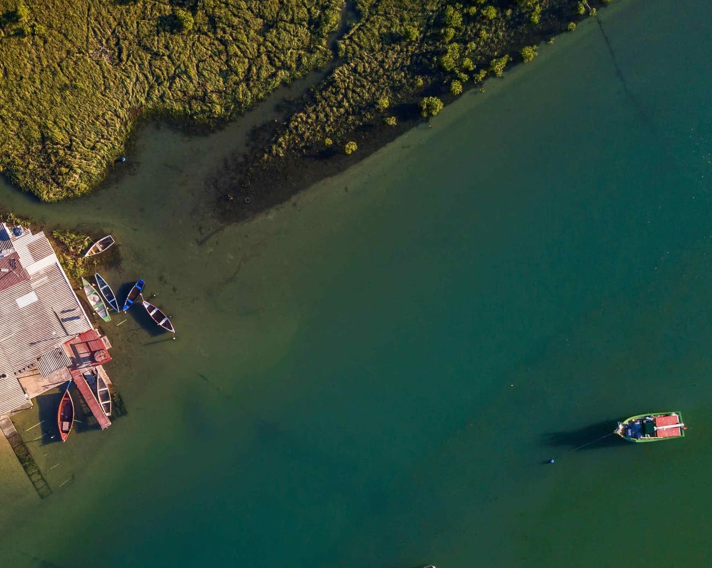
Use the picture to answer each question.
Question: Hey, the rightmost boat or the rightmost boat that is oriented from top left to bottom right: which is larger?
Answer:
the rightmost boat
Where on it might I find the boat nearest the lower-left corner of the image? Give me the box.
[58,390,74,440]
